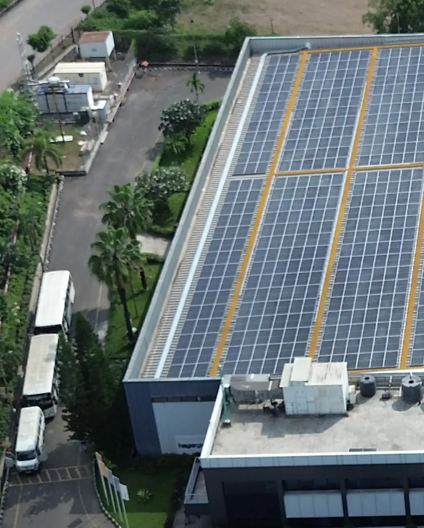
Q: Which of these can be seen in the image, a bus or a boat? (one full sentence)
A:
The one in the frame is a bus.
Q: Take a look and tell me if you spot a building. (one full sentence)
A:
Yes, there is a building in the image.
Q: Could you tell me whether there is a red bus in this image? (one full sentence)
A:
No, no red bus is visible in the view.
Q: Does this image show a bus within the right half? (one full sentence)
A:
No, no bus can be made out within the right half.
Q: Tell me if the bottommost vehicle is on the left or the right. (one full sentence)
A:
The bottommost vehicle is on the left side of the image.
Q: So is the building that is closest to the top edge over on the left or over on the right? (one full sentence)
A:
The building that is closest to the top edge is on the left side of the image.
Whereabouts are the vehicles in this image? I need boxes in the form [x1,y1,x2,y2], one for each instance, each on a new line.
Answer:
[37,270,74,338]
[23,334,62,420]
[14,406,51,481]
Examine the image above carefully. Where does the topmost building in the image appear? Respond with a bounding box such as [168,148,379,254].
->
[74,25,113,67]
